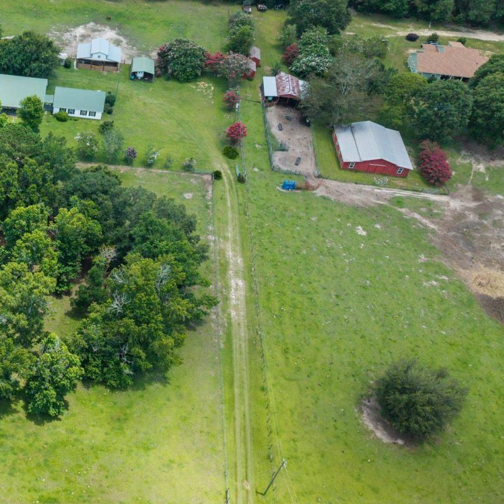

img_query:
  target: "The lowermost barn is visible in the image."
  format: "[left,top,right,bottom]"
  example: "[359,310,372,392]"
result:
[332,121,414,176]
